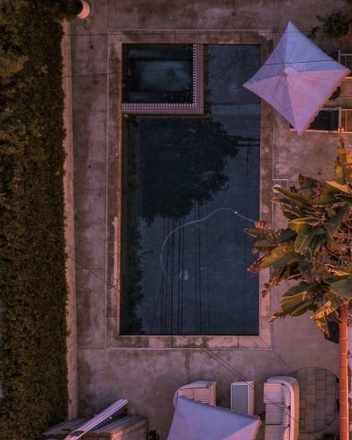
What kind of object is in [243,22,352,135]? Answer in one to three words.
umbrella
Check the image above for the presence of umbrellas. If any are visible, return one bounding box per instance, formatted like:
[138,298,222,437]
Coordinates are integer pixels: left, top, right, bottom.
[243,22,352,135]
[171,393,264,440]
